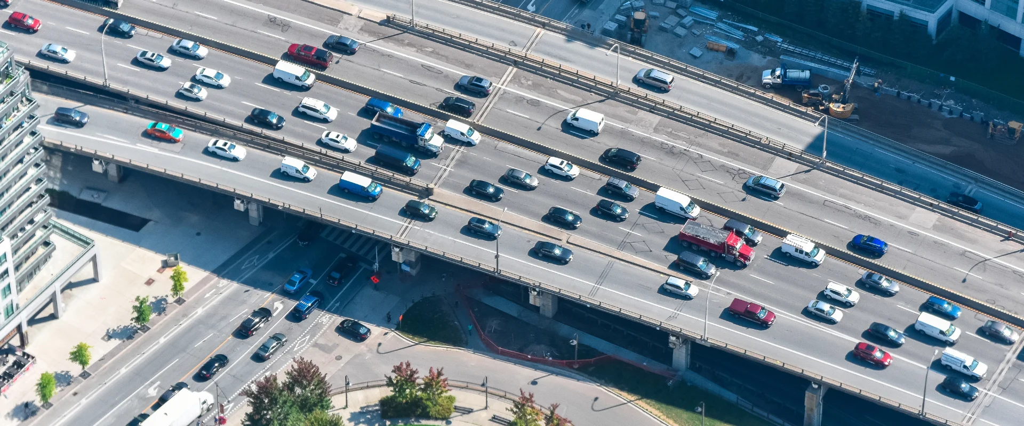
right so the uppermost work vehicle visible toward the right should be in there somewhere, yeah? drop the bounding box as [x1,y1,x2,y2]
[629,9,648,55]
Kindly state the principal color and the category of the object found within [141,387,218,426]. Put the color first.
white truck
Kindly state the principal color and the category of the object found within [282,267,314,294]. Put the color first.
blue car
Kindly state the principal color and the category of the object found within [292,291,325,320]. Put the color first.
blue car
